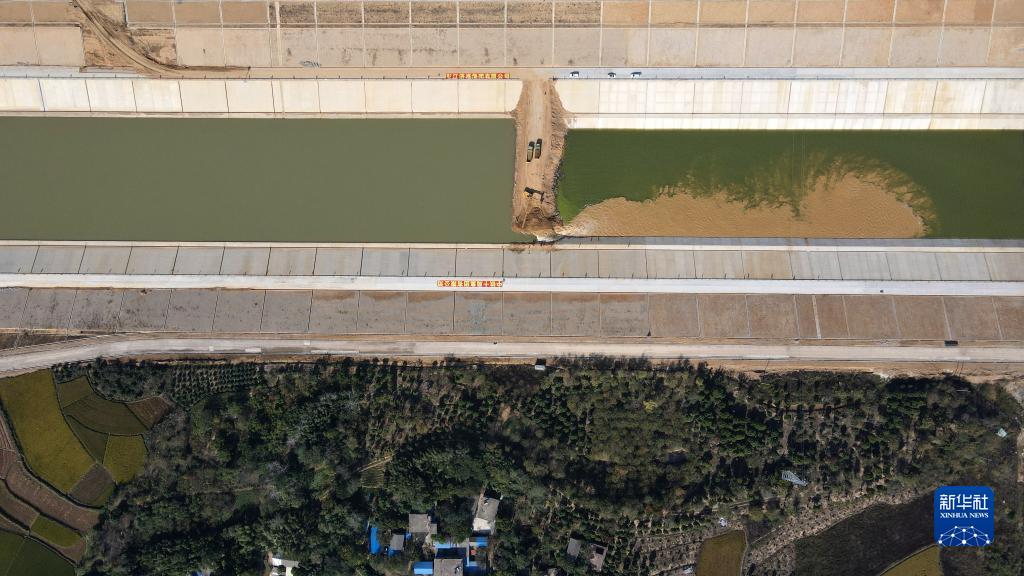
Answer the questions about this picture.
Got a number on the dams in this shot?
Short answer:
1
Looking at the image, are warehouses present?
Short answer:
No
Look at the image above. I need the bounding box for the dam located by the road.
[511,77,569,236]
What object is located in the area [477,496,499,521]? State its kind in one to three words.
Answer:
house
